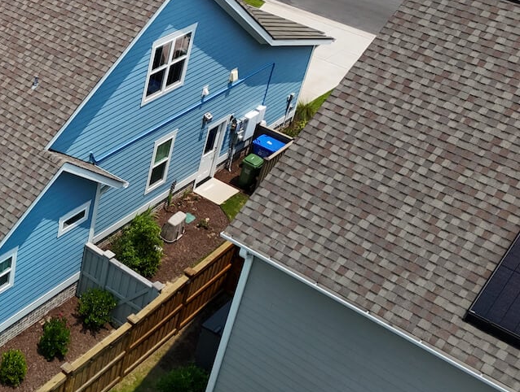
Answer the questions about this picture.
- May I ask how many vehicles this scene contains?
0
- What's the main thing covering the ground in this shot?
buildings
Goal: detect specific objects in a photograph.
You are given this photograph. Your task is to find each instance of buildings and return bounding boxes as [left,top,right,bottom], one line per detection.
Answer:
[0,0,335,345]
[204,0,520,392]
